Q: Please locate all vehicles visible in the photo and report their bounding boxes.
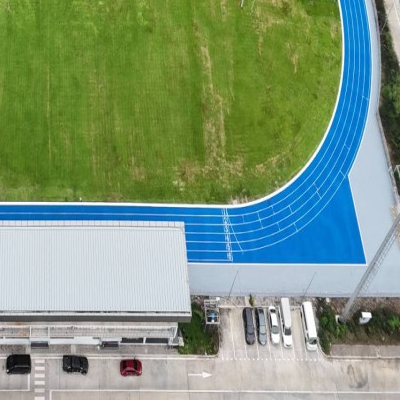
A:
[255,305,269,347]
[300,297,319,357]
[120,359,143,378]
[6,355,30,377]
[62,356,88,377]
[278,291,296,352]
[243,305,257,348]
[266,305,281,346]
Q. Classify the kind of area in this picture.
sports ground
